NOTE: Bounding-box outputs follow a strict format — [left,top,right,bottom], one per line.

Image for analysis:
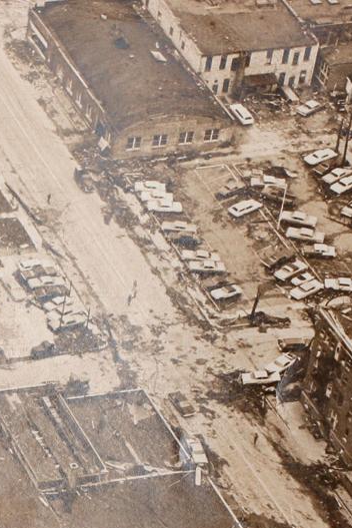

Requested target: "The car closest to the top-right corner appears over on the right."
[294,97,324,115]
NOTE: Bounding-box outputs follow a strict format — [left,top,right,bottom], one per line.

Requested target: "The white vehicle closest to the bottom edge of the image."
[186,437,208,465]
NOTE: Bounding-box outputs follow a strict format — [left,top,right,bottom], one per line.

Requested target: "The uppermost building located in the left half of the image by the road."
[21,0,242,159]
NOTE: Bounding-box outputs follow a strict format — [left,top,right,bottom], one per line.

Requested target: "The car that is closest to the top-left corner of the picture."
[74,170,92,192]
